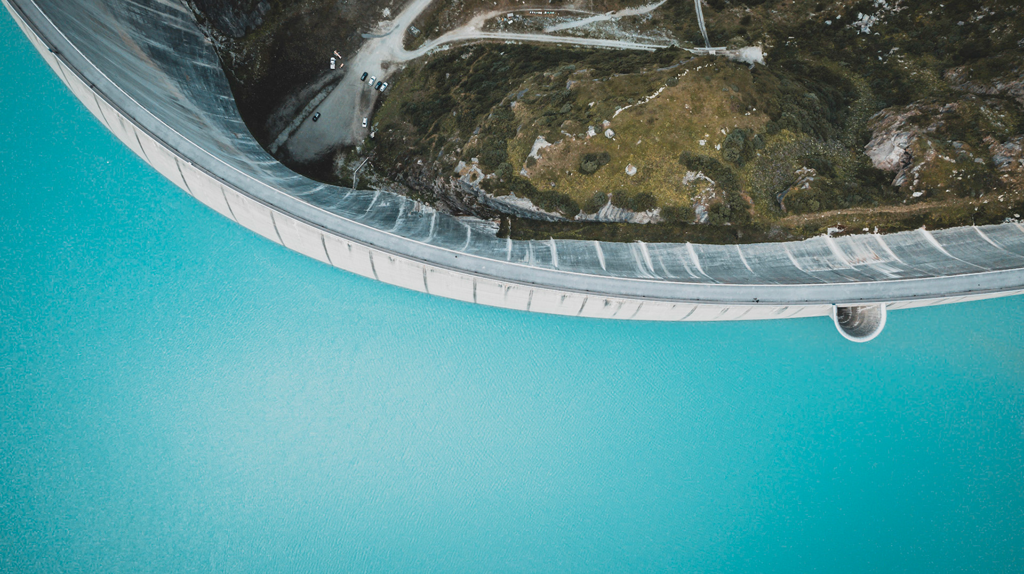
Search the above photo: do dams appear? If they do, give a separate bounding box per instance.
[3,0,1024,321]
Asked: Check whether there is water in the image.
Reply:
Yes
